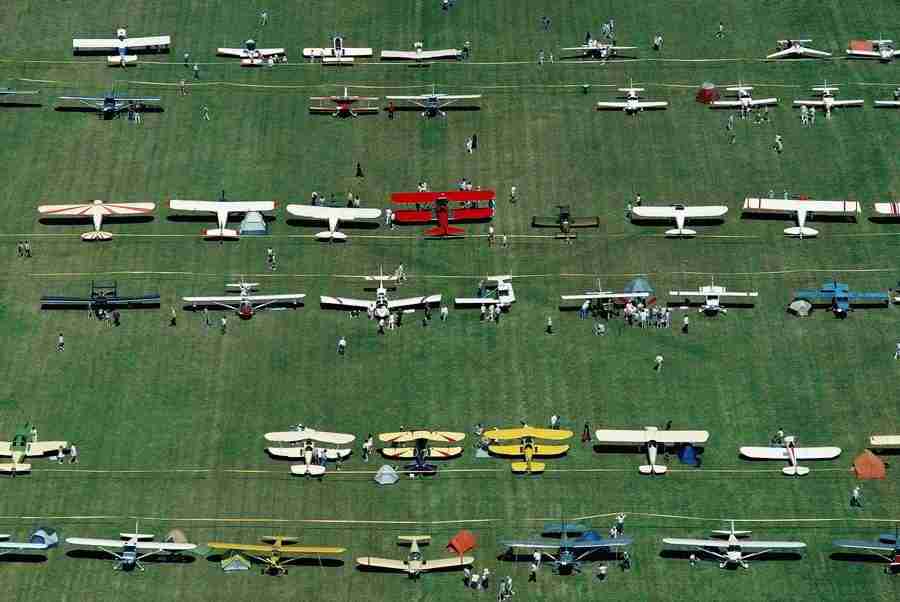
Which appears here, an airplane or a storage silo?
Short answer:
airplane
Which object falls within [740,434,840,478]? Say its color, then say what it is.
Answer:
white airplane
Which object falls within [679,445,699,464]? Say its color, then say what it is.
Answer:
blue tent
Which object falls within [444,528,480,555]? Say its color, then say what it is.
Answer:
red tent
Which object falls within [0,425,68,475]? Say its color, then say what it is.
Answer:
white airplane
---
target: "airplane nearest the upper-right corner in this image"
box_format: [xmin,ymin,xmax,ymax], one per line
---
[846,32,900,62]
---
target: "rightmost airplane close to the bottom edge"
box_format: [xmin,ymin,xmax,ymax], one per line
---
[832,526,900,574]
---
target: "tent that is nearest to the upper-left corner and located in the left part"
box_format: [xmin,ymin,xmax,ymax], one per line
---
[240,212,266,235]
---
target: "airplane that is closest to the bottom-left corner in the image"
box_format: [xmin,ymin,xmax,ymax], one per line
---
[0,535,47,572]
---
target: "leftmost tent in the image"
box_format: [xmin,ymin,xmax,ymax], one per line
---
[26,529,60,548]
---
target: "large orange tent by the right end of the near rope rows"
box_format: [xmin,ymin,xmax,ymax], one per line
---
[854,454,884,478]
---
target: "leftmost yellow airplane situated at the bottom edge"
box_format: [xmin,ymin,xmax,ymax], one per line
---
[207,526,345,575]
